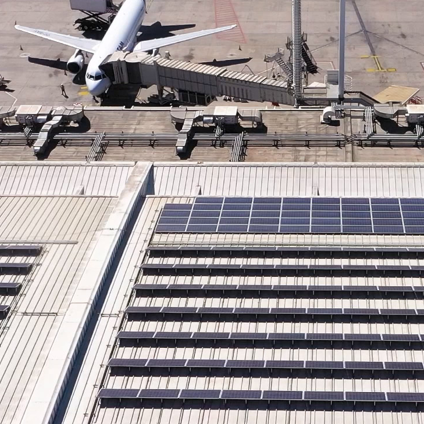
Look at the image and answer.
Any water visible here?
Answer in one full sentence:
No, water can't be seen anywhere here.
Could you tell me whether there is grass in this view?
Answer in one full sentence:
No, there's no grass in this view.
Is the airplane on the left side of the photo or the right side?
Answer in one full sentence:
The airplane appears in the left half of the scene.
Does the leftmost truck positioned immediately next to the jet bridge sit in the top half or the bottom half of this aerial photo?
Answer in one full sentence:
The leftmost truck positioned immediately next to the jet bridge sits in the top half of the picture.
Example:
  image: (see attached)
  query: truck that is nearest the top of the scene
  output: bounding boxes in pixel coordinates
[68,0,123,35]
